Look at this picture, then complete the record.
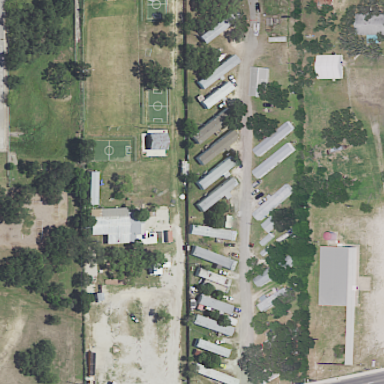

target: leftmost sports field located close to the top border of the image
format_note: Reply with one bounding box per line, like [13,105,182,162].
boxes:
[84,0,138,136]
